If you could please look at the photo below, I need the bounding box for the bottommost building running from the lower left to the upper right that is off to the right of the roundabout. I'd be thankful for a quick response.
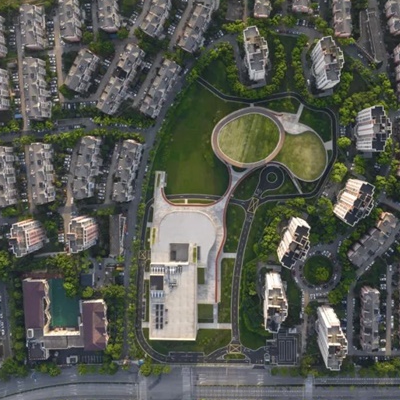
[342,209,395,267]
